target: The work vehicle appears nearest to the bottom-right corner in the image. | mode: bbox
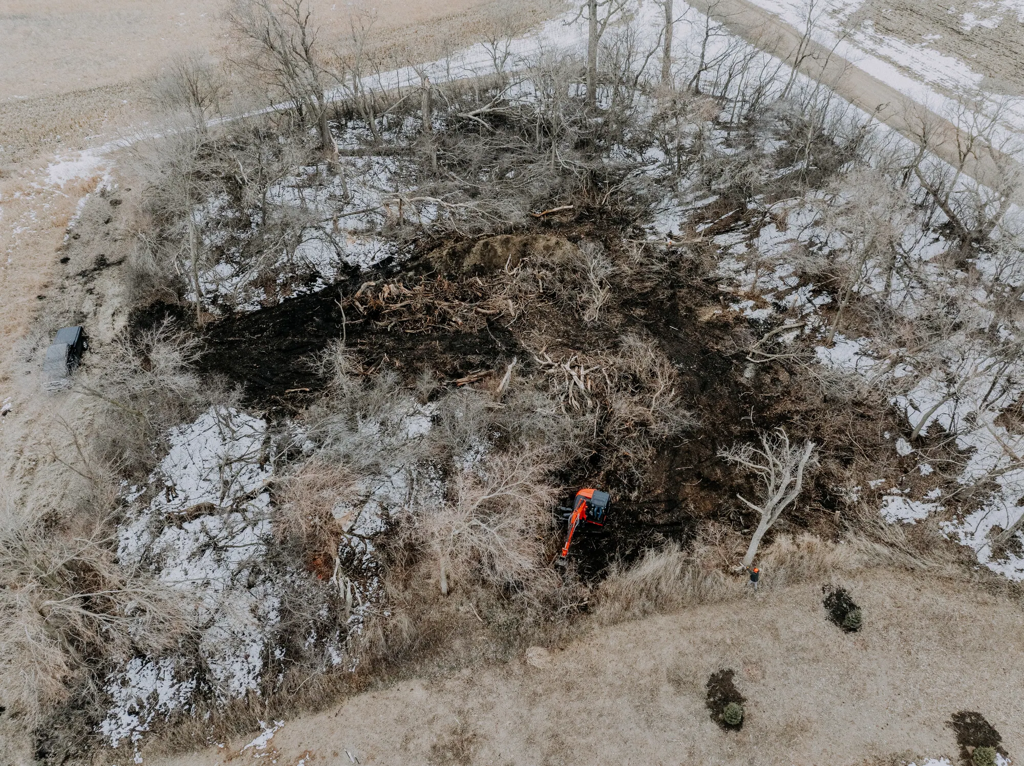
[552,485,616,572]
